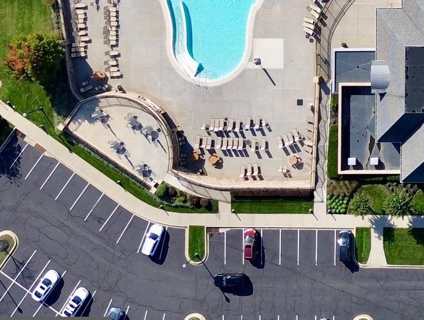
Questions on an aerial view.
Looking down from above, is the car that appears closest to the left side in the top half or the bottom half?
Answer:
bottom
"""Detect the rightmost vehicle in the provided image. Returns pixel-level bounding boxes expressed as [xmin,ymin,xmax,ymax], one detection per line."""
[337,229,352,263]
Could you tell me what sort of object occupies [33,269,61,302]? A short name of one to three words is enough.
car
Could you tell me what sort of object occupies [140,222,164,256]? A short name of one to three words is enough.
car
